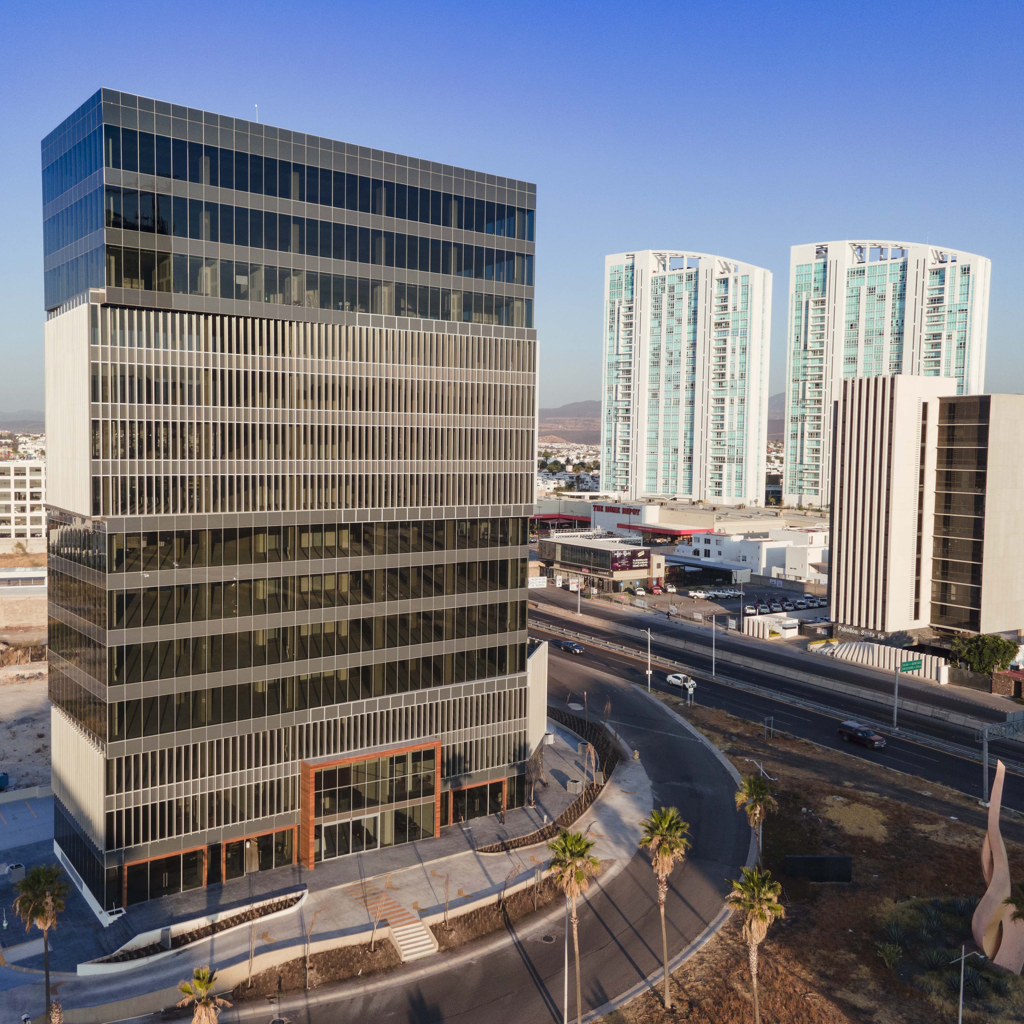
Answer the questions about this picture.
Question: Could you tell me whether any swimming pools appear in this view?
No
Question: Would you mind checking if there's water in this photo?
No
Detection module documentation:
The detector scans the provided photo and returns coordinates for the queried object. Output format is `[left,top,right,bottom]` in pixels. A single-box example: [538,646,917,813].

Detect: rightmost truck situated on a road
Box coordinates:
[835,719,889,749]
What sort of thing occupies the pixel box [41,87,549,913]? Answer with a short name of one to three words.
building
